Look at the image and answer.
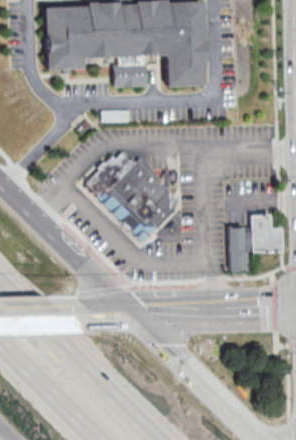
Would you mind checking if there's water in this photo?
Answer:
No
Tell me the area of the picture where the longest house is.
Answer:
top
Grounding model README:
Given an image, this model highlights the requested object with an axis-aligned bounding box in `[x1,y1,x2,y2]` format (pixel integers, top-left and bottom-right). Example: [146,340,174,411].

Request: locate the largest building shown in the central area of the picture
[84,150,178,240]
